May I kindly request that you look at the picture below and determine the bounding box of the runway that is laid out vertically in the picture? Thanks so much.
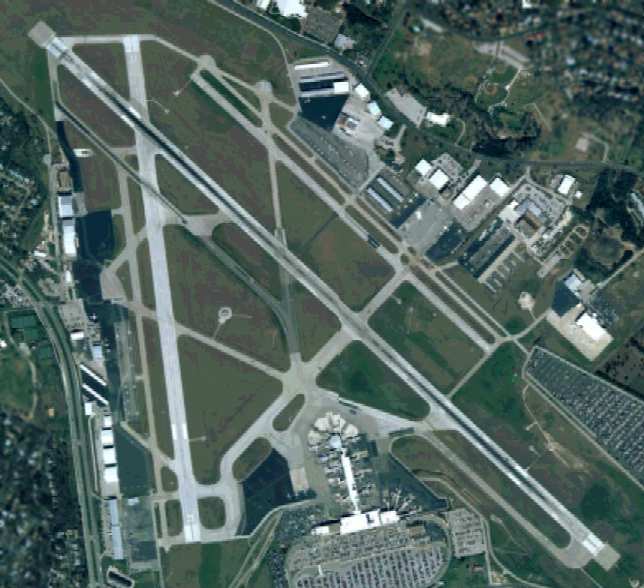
[124,34,199,544]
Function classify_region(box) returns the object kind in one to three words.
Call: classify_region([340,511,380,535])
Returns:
building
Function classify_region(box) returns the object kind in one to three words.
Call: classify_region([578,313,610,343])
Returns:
hangar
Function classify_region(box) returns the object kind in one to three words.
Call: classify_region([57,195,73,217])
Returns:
hangar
